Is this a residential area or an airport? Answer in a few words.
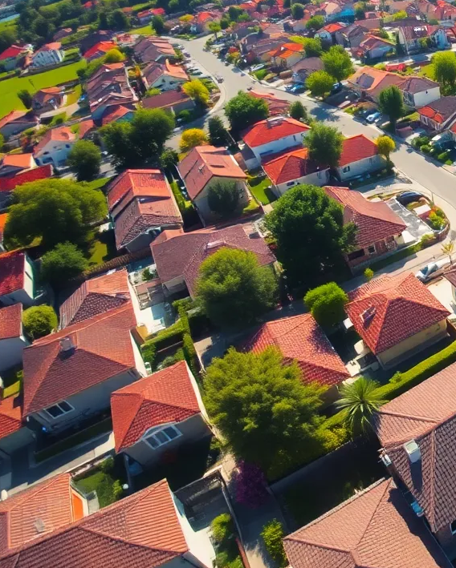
residential area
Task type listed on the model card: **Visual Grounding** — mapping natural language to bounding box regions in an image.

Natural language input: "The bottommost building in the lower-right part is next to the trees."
[280,473,452,568]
